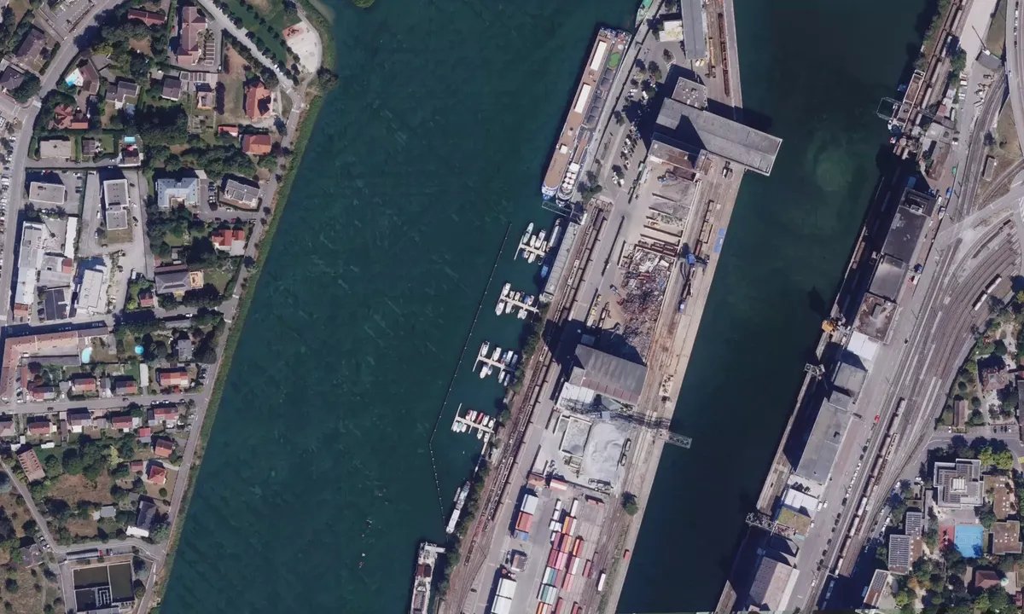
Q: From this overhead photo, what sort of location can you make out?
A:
port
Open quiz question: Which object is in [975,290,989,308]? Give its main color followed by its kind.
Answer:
white rail car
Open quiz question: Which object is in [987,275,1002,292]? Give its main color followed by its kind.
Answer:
white rail car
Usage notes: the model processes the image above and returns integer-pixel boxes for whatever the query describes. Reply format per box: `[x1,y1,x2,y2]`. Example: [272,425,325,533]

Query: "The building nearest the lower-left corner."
[20,544,44,567]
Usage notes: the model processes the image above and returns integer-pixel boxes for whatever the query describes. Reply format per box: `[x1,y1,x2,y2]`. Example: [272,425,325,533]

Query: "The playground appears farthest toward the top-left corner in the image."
[287,21,320,71]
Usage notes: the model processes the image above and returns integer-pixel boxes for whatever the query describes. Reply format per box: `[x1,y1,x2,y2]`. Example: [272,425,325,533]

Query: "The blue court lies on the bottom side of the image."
[955,525,983,558]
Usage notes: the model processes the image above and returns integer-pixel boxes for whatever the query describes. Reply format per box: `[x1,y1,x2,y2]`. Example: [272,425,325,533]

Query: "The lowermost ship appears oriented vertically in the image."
[412,542,437,614]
